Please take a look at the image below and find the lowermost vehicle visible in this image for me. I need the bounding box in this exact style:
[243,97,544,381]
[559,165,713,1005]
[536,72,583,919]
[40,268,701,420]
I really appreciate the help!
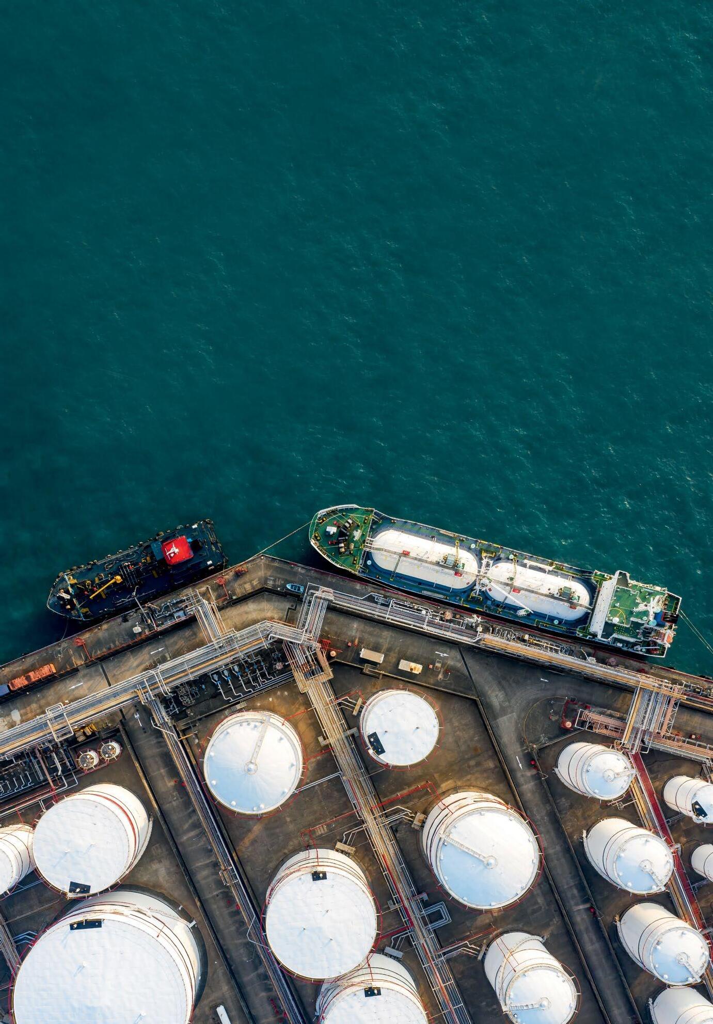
[216,1000,236,1024]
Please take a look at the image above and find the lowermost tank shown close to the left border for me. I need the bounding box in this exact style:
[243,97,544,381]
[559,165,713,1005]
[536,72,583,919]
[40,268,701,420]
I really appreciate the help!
[9,881,204,1024]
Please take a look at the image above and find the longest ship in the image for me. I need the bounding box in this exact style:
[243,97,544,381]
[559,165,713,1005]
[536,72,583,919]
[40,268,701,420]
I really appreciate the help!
[307,507,682,656]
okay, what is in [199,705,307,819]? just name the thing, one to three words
storage tank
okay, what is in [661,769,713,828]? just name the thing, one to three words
storage tank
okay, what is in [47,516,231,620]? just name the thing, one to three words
ship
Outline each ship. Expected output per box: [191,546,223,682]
[47,516,231,620]
[307,507,682,656]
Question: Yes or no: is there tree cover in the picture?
No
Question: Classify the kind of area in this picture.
industrial area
